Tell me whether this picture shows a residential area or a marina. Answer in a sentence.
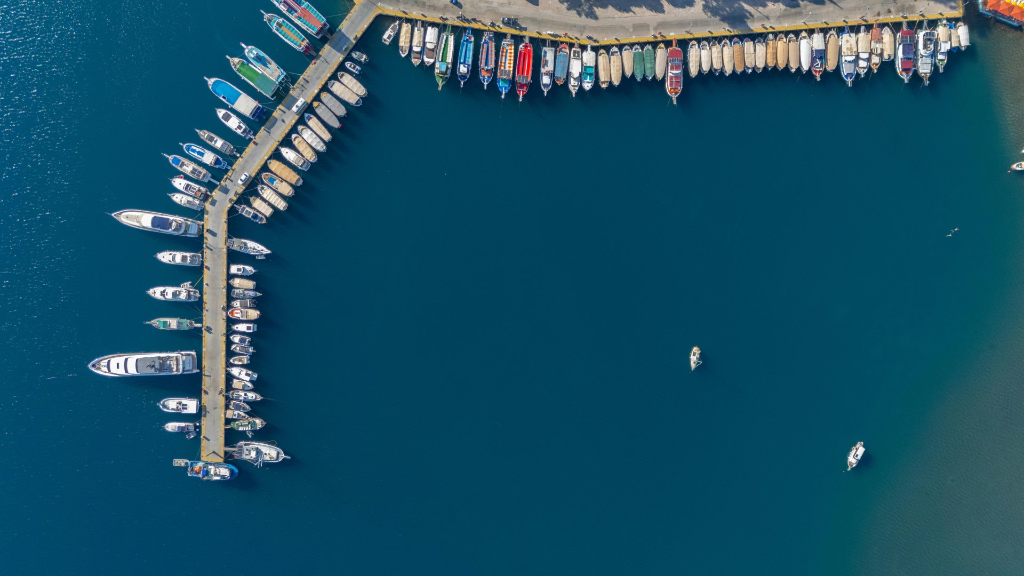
It's a marina.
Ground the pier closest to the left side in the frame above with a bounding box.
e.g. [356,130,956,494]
[201,7,376,462]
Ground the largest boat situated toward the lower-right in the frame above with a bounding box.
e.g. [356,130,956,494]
[849,440,866,470]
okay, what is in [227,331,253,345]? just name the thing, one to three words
boat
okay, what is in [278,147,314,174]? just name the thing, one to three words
boat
